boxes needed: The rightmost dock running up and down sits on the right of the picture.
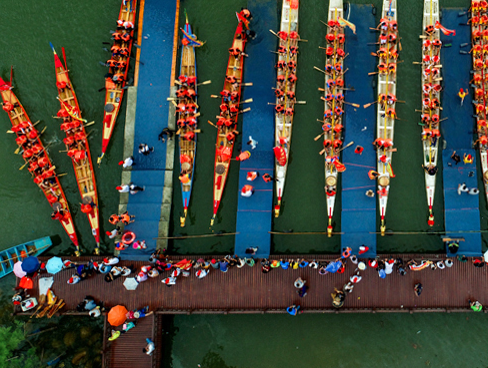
[441,8,481,259]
